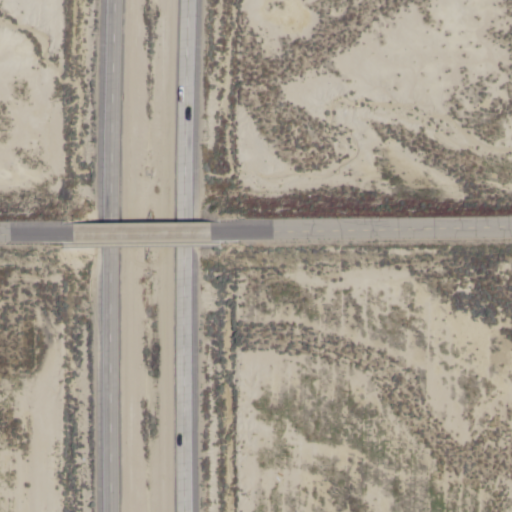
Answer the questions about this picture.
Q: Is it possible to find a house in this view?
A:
No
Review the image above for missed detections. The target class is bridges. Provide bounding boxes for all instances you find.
[58,222,227,248]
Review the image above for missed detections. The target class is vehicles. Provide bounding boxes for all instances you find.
[177,434,182,446]
[186,108,191,119]
[180,88,184,100]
